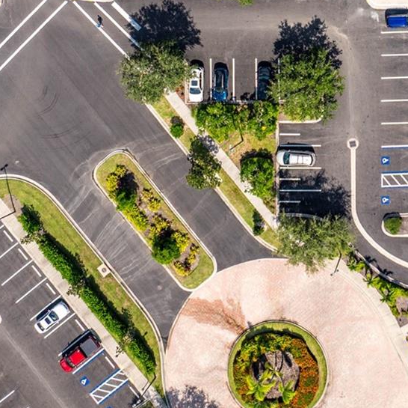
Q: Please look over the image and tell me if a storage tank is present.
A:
No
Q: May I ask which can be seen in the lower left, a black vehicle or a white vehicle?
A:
white vehicle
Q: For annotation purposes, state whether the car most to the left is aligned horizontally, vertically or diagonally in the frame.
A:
diagonally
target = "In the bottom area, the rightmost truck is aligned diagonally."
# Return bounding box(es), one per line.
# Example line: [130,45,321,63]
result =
[60,332,102,371]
